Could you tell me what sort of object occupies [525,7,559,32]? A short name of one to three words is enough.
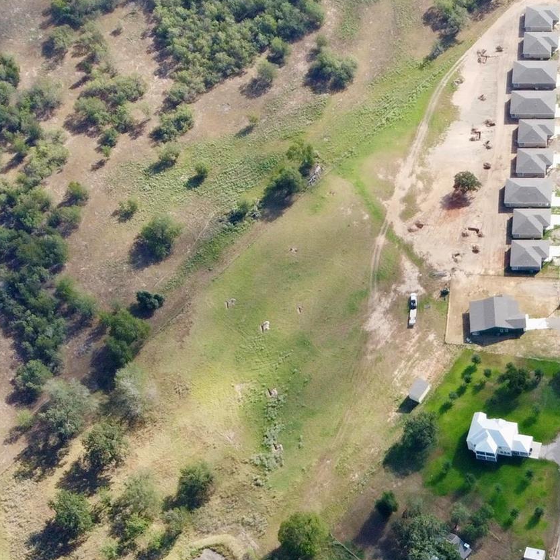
house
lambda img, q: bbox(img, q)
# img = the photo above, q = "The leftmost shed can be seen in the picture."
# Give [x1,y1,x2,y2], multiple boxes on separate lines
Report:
[407,379,430,402]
